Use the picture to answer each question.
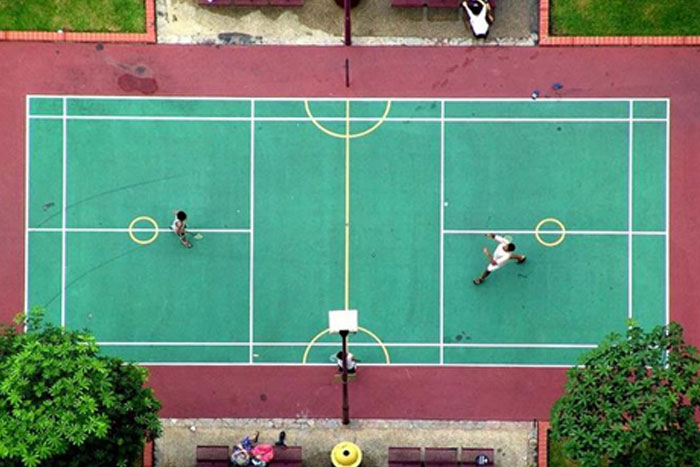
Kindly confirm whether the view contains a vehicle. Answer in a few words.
No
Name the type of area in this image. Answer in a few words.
sports ground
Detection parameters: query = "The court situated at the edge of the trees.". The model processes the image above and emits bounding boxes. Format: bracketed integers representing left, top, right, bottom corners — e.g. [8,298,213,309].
[25,96,669,366]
